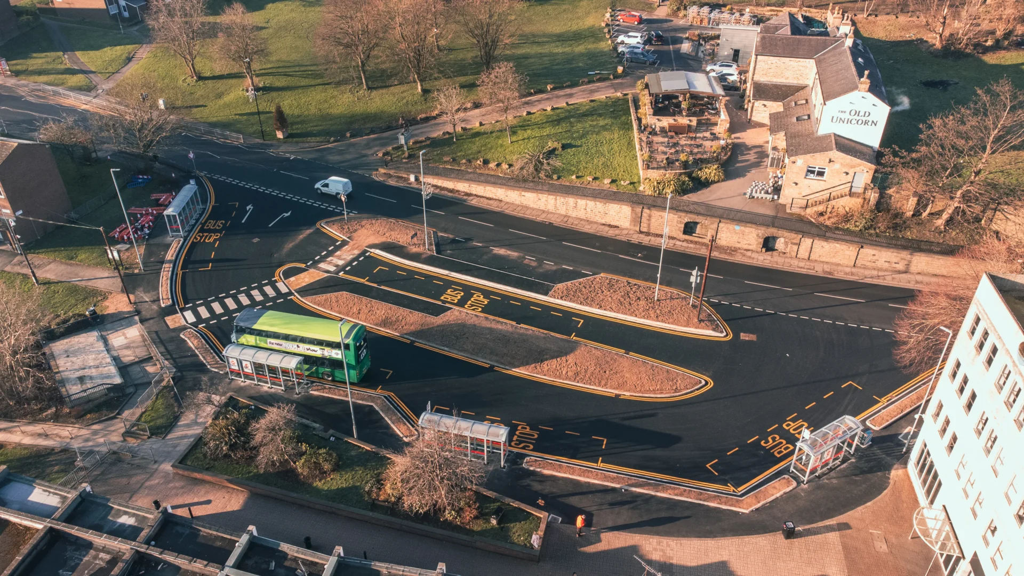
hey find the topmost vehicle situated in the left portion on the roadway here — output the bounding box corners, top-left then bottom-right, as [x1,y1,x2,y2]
[313,177,356,202]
